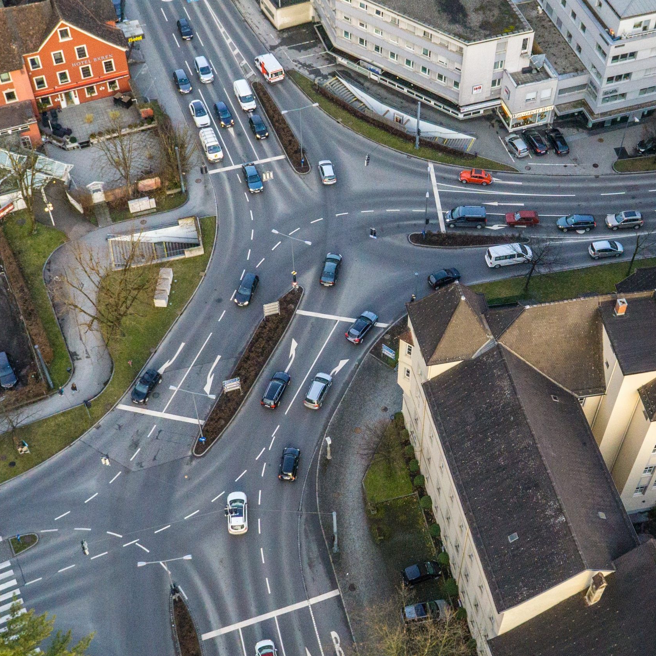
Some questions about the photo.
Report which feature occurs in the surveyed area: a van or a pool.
van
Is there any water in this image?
No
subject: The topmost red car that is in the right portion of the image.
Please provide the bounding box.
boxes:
[458,170,494,187]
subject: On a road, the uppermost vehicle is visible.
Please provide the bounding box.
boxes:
[176,16,193,39]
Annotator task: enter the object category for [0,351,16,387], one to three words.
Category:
car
